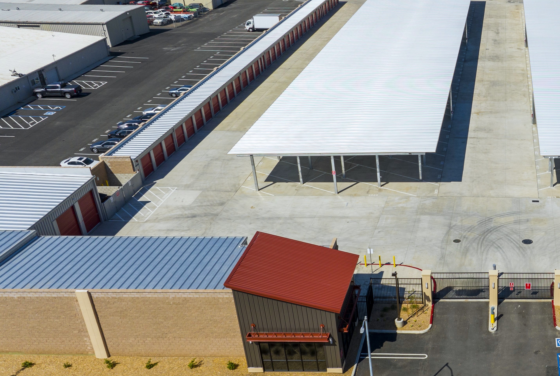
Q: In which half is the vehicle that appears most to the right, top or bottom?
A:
top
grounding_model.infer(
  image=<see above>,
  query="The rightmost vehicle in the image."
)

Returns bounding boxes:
[245,11,285,31]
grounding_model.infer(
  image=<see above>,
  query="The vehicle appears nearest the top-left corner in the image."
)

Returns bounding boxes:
[29,79,84,98]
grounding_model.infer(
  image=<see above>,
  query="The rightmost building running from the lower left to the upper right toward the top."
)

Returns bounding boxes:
[102,0,335,182]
